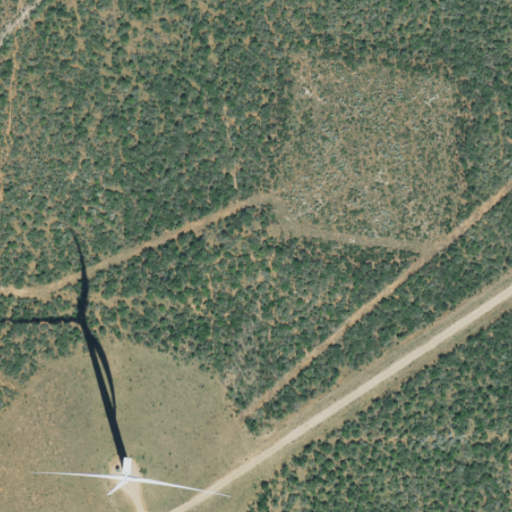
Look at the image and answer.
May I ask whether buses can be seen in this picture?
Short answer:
No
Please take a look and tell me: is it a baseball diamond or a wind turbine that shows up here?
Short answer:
wind turbine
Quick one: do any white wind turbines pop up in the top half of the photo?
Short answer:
No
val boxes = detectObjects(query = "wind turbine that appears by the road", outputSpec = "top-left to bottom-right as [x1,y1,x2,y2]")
[40,457,228,494]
